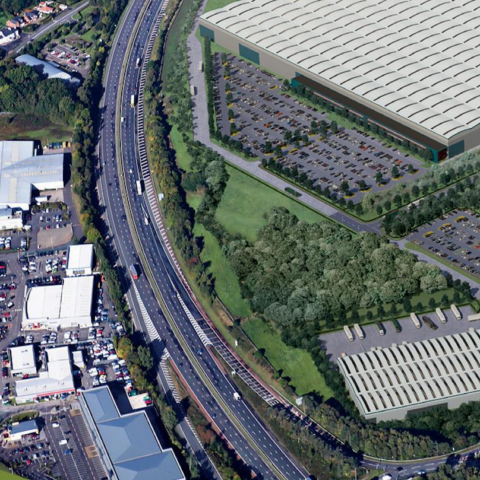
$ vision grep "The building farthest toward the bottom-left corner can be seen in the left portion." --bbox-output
[5,419,39,444]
